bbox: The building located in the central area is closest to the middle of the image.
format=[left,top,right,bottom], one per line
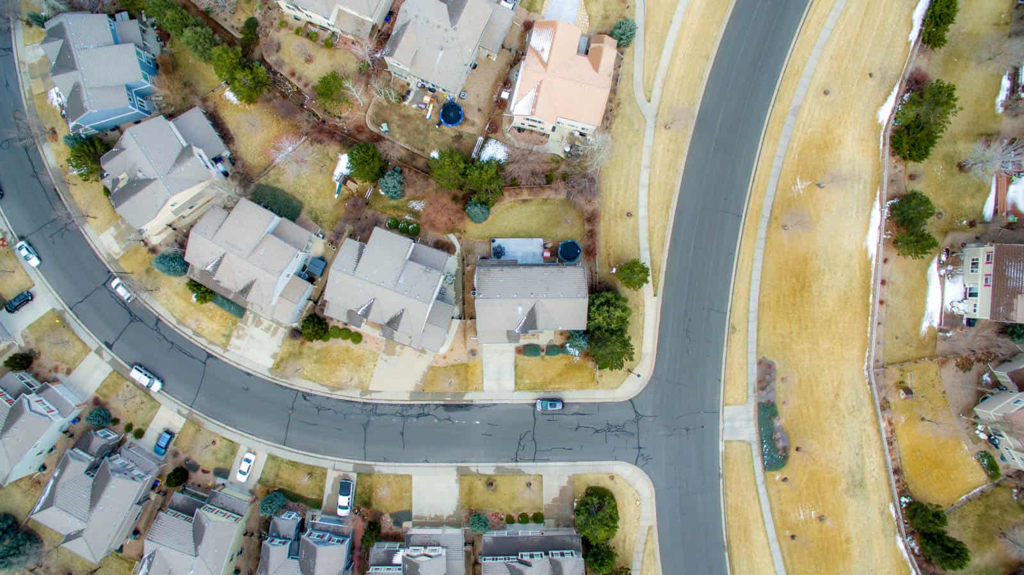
[475,259,589,345]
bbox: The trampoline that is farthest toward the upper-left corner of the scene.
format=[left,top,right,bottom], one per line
[437,101,464,126]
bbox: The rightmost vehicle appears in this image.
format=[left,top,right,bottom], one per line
[537,399,563,412]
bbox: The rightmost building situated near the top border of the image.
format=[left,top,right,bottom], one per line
[513,17,618,133]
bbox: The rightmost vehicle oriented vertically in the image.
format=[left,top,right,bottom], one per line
[337,480,352,515]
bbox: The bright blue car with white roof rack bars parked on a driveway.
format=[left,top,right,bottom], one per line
[155,429,175,456]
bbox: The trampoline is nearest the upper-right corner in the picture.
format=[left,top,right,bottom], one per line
[555,239,581,263]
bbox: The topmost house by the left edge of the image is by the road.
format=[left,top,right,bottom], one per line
[39,10,159,138]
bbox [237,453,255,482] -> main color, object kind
white car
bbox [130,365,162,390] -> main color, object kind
white vehicle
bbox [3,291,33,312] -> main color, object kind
blue car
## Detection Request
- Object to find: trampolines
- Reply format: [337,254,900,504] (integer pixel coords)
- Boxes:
[555,239,581,263]
[437,101,464,126]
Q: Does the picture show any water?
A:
No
